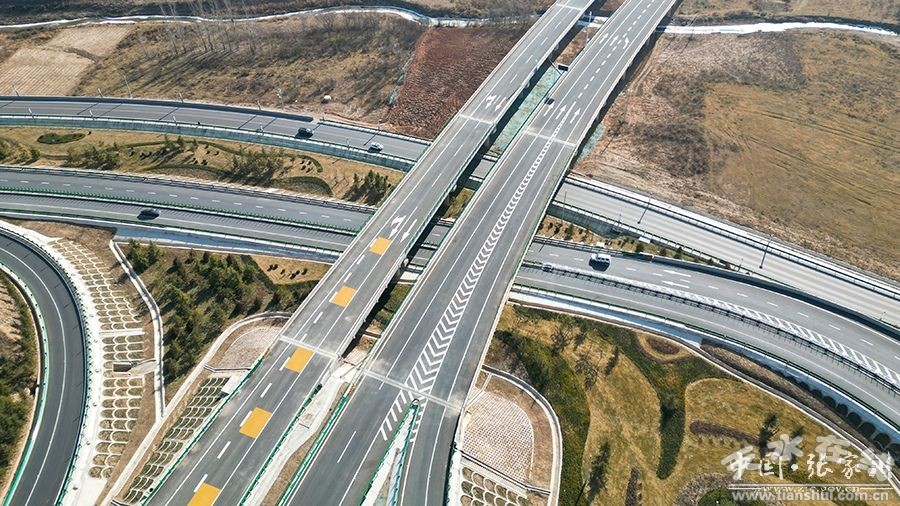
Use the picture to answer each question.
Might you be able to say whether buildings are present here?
No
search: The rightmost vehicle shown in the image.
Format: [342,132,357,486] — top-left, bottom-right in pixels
[589,253,613,266]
